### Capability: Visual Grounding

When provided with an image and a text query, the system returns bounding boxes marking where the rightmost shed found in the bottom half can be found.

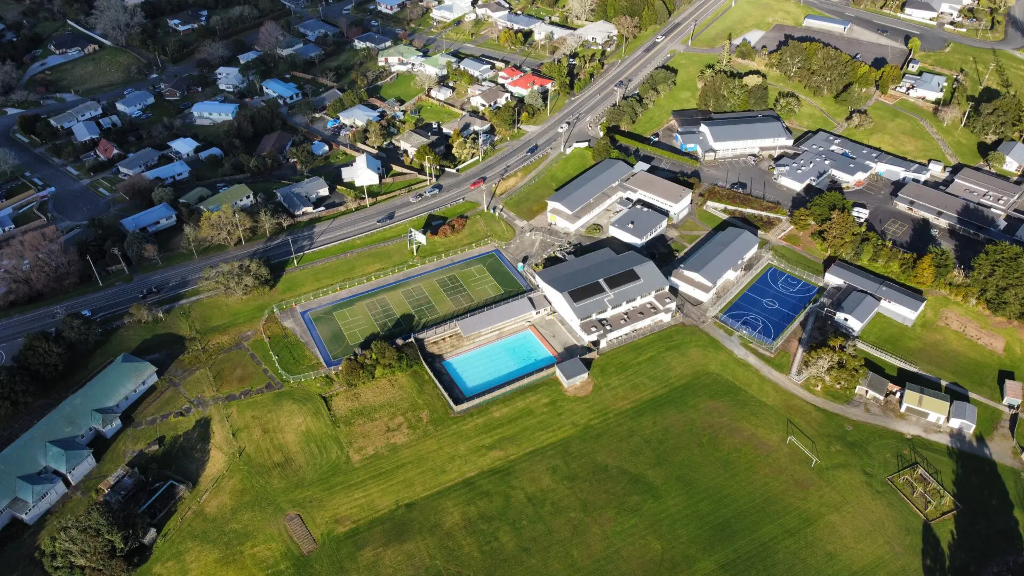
[992,377,1021,412]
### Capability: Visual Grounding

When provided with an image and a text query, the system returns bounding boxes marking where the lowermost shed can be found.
[139,527,164,550]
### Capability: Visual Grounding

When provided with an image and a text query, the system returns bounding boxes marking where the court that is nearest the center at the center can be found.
[301,249,535,364]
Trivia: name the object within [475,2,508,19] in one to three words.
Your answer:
house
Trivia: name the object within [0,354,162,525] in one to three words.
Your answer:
building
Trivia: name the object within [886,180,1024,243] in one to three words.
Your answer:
building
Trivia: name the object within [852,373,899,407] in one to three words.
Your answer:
shed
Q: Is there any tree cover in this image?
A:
Yes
